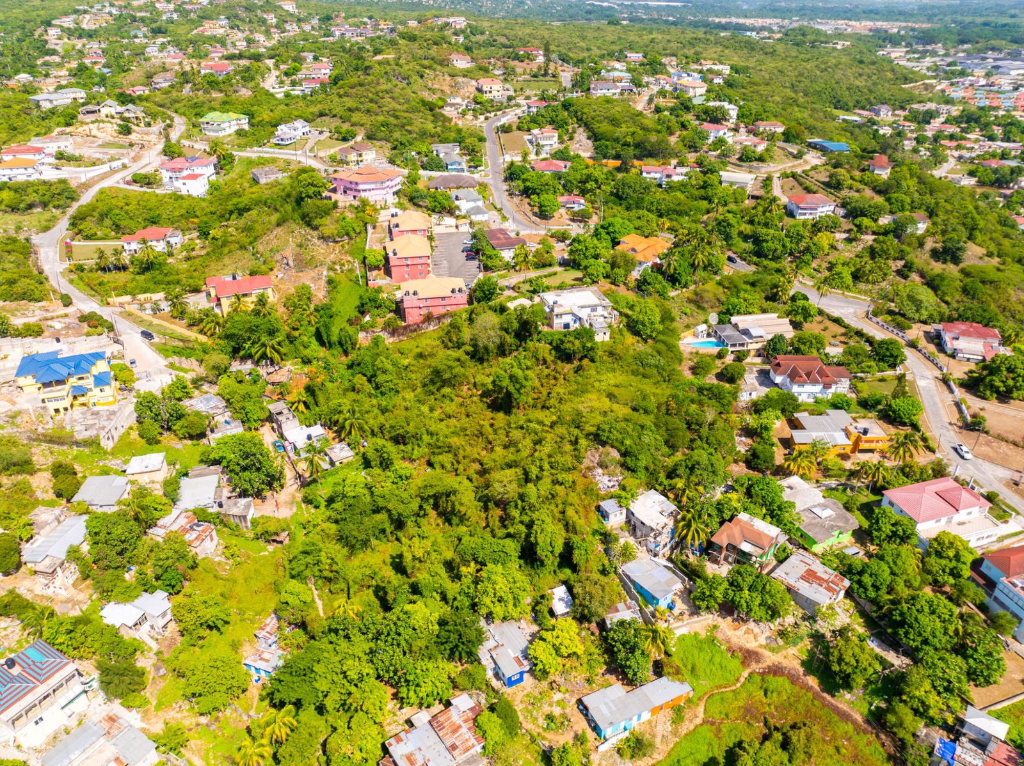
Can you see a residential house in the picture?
Yes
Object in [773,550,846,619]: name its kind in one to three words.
house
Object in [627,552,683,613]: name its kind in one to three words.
house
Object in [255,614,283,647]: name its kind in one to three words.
shed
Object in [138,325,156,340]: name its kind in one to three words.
car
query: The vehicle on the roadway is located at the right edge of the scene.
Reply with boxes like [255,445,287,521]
[951,440,977,461]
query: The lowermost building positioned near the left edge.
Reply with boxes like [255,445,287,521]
[49,715,158,766]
